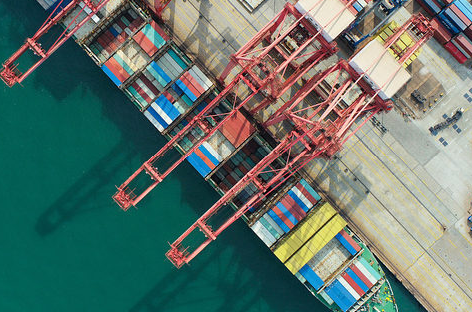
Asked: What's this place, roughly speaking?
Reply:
port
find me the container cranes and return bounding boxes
[338,0,410,50]
[108,0,362,219]
[0,0,111,92]
[162,11,443,275]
